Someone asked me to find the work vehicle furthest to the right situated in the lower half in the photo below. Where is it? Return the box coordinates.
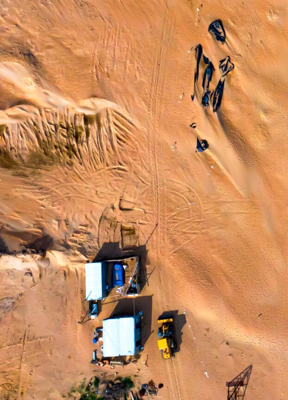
[158,309,177,358]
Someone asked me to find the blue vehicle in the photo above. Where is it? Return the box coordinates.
[111,261,126,287]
